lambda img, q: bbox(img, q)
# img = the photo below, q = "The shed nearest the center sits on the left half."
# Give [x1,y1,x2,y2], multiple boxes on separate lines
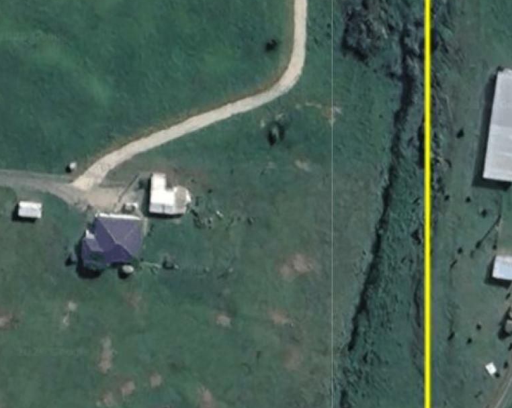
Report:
[149,173,186,213]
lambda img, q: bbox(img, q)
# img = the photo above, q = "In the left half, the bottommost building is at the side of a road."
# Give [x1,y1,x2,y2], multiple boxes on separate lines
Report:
[82,213,141,263]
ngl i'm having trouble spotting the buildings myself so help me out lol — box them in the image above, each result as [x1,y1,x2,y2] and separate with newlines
[492,256,512,280]
[483,71,512,181]
[17,201,41,218]
[82,213,141,263]
[149,173,186,213]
